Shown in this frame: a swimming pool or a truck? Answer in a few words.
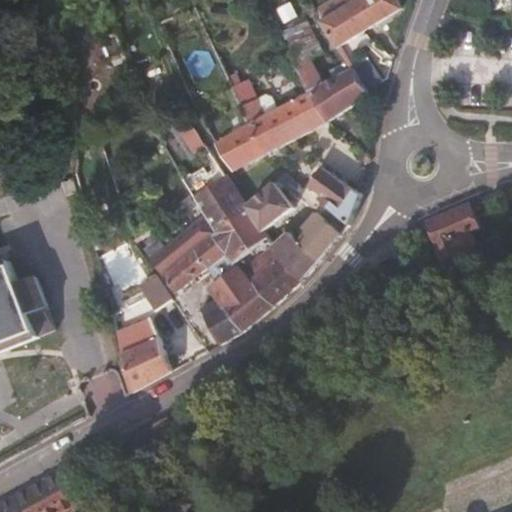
swimming pool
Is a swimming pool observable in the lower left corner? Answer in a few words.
No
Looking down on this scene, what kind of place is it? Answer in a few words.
residential area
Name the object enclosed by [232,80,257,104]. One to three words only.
shed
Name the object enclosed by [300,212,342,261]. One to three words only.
house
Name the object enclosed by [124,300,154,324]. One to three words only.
building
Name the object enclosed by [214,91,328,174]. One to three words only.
house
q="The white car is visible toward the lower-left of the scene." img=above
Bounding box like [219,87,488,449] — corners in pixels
[52,434,72,449]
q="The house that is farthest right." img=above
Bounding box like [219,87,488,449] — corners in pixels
[424,201,485,252]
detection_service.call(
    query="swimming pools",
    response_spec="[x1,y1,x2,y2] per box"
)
[186,50,215,78]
